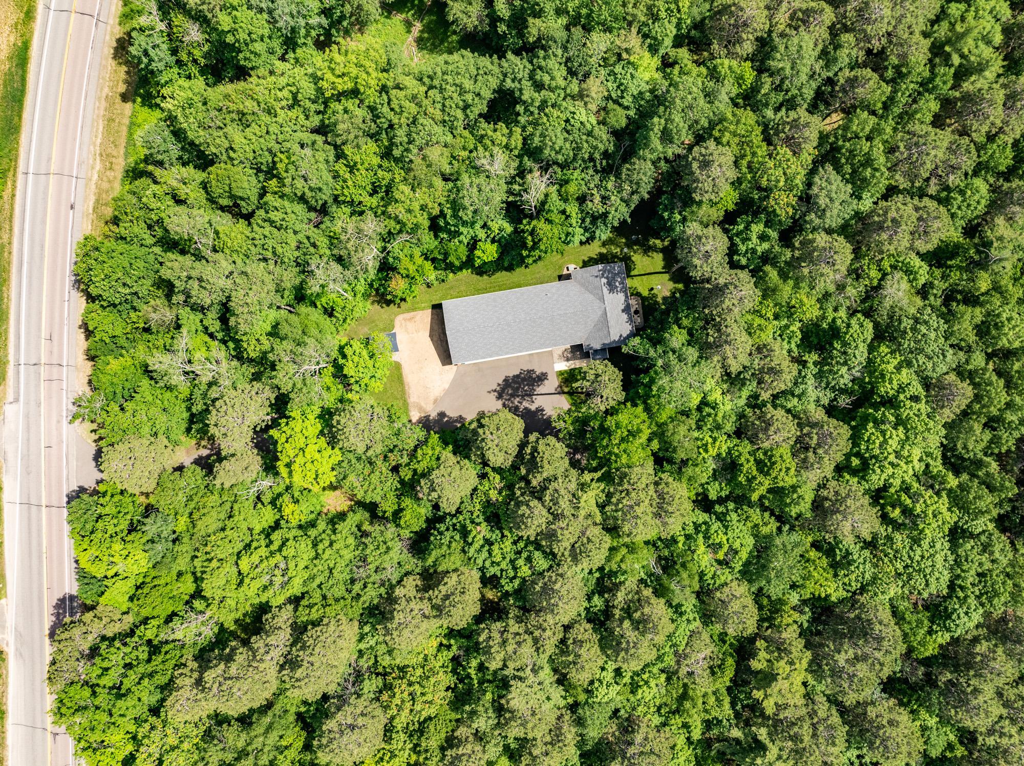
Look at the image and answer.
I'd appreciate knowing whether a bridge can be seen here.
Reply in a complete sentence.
No, the picture doesn't show any bridge.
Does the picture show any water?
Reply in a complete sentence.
No, the scene doesn't show any water.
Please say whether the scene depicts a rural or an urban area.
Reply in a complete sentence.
The land in this view is best described as rural.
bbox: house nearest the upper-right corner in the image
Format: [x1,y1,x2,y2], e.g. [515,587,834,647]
[441,262,637,365]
